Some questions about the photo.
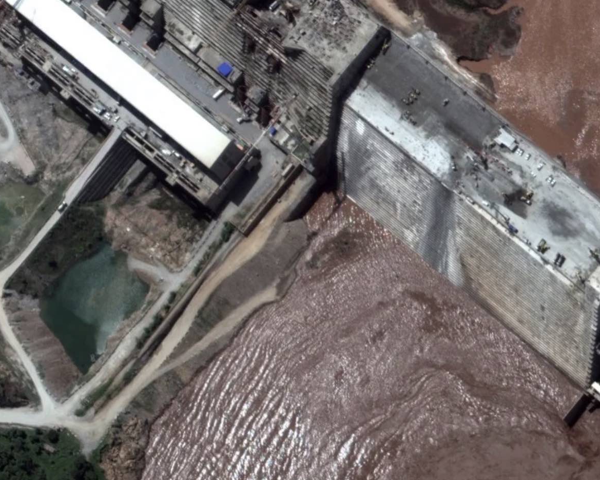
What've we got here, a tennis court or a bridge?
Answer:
bridge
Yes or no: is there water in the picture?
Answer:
Yes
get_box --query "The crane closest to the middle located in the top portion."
[217,93,303,192]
